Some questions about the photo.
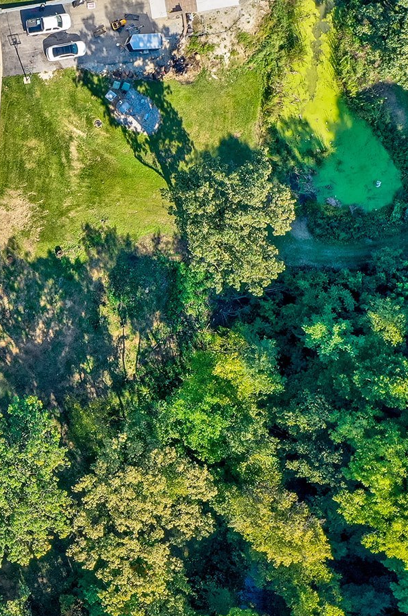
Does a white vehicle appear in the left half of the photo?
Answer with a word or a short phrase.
Yes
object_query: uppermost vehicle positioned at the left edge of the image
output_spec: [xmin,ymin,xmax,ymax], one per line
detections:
[20,12,72,37]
